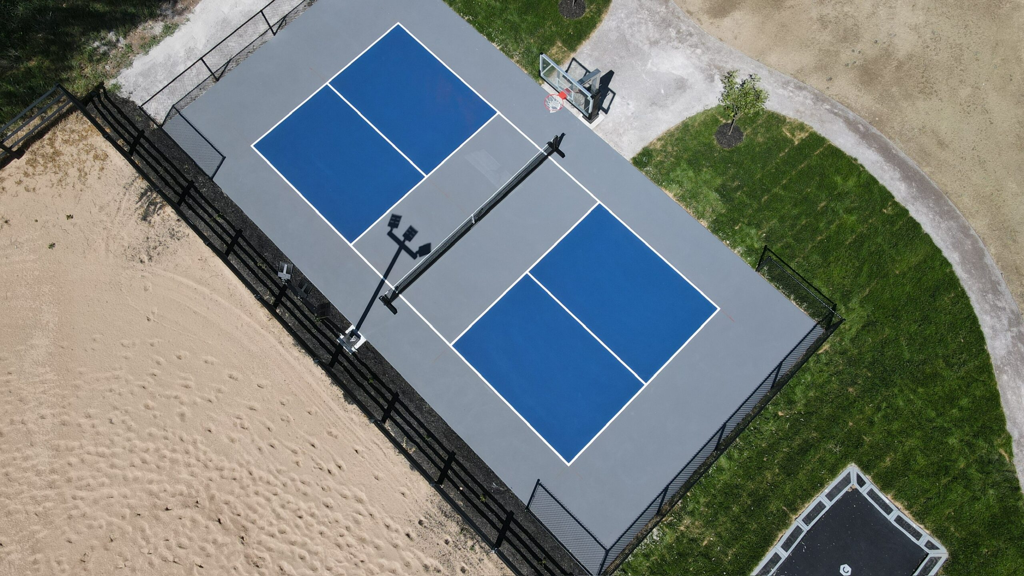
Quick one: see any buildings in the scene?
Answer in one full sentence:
No, I can see no building in this picture.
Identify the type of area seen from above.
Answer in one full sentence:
This looks like a sports ground.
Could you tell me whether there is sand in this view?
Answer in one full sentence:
Yes, some sand is visible.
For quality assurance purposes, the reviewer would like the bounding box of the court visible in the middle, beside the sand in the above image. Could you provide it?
[161,0,821,576]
